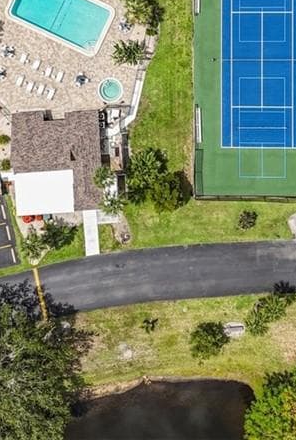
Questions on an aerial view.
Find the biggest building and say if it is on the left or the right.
left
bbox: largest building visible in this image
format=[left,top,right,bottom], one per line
[12,110,103,212]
